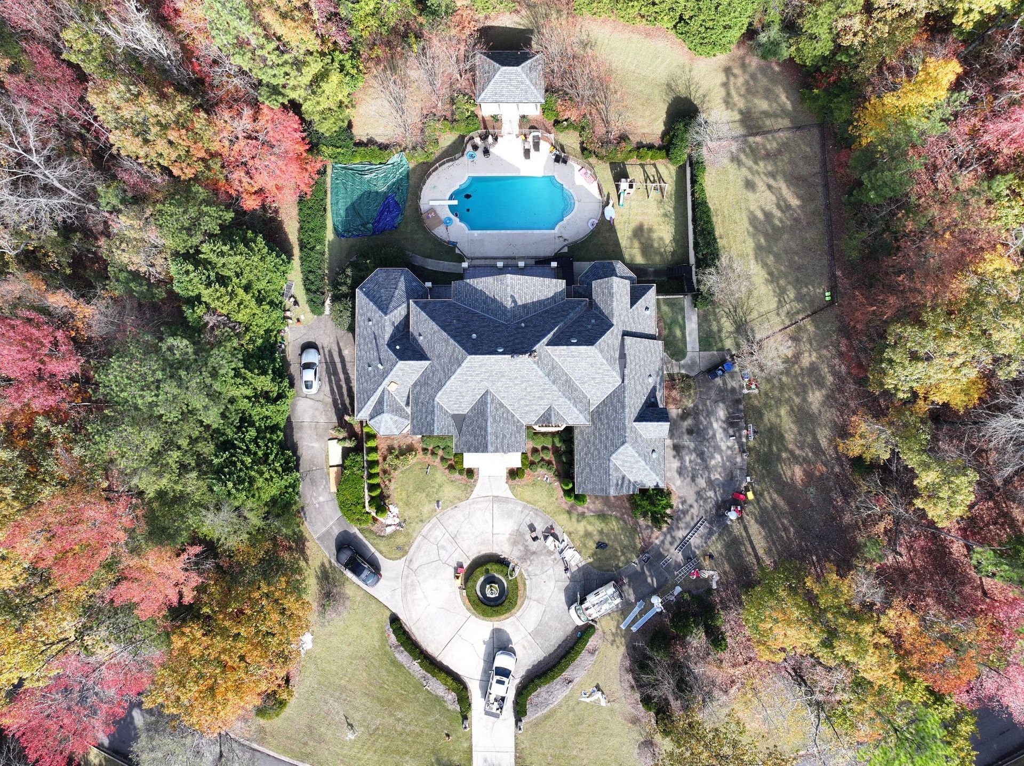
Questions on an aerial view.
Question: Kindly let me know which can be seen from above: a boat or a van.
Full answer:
There is a van in the scene.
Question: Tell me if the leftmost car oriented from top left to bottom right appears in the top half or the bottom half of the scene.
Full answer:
Seen from above, the leftmost car oriented from top left to bottom right lies in the bottom half of the view.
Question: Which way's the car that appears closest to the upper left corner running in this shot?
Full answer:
The car that appears closest to the upper left corner runs from top to bottom in the image.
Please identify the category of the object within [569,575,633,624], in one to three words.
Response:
van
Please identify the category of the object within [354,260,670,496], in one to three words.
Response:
house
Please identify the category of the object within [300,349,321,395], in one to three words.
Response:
car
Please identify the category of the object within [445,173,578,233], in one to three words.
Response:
swimming pool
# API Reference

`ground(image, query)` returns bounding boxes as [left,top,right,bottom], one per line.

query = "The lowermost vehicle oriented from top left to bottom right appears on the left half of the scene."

[338,546,381,588]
